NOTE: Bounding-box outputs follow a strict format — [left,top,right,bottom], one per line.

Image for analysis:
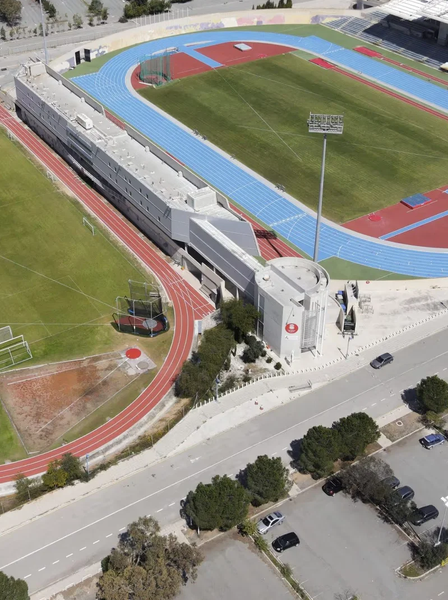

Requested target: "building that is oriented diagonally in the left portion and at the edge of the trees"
[17,67,267,311]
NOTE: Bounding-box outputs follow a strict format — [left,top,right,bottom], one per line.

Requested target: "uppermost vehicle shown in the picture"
[371,350,395,368]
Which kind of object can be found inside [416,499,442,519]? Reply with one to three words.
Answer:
car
